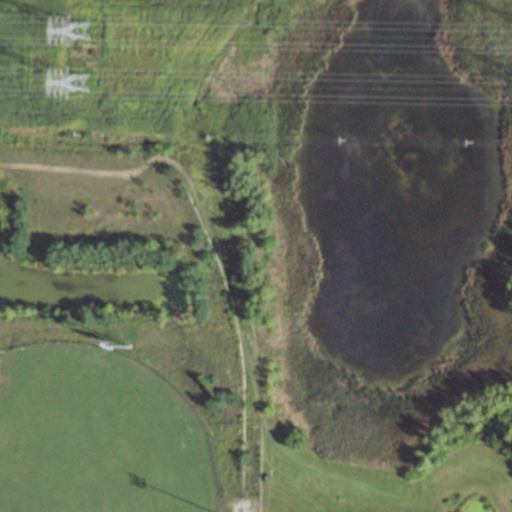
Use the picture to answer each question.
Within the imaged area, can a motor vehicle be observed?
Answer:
No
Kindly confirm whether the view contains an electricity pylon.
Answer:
Yes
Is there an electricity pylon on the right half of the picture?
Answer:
No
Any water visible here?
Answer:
Yes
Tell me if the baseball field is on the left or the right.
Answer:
left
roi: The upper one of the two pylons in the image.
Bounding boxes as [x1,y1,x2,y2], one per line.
[46,15,90,45]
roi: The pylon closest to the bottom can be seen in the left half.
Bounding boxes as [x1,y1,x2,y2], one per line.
[46,67,90,96]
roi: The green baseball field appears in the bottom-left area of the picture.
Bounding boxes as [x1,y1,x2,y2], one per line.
[0,342,220,512]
